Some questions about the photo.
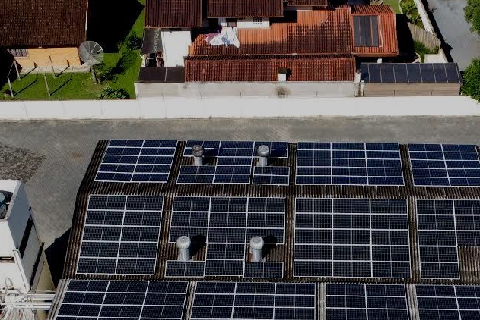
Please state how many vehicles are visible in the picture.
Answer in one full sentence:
The photo contains no vehicles.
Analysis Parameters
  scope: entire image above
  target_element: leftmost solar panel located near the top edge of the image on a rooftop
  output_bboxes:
[354,15,379,46]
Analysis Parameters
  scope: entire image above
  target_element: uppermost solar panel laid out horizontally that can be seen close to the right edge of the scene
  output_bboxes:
[360,62,462,84]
